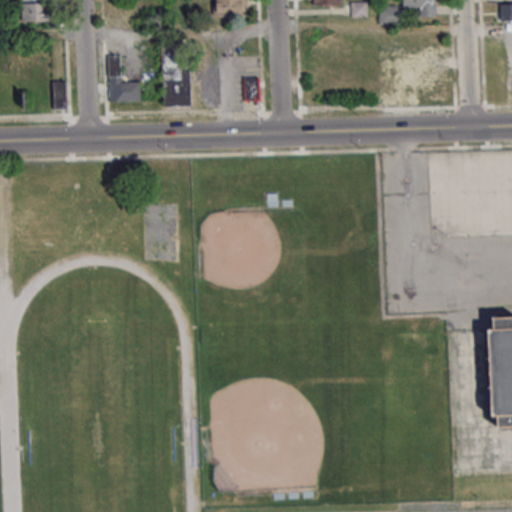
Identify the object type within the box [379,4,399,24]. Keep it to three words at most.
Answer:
house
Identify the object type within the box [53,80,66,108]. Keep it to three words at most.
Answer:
shed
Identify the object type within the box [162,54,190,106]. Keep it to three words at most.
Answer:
building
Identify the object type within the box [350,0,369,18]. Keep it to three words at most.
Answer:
building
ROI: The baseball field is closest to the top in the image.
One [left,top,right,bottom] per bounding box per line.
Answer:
[191,154,384,336]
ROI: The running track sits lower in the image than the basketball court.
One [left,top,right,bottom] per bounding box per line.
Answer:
[0,250,204,512]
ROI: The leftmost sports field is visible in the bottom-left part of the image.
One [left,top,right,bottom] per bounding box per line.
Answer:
[17,267,188,512]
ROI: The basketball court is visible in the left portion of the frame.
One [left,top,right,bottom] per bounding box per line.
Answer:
[144,204,180,262]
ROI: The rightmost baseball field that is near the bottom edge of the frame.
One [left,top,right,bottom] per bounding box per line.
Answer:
[197,317,454,507]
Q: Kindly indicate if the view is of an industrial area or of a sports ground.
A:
sports ground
